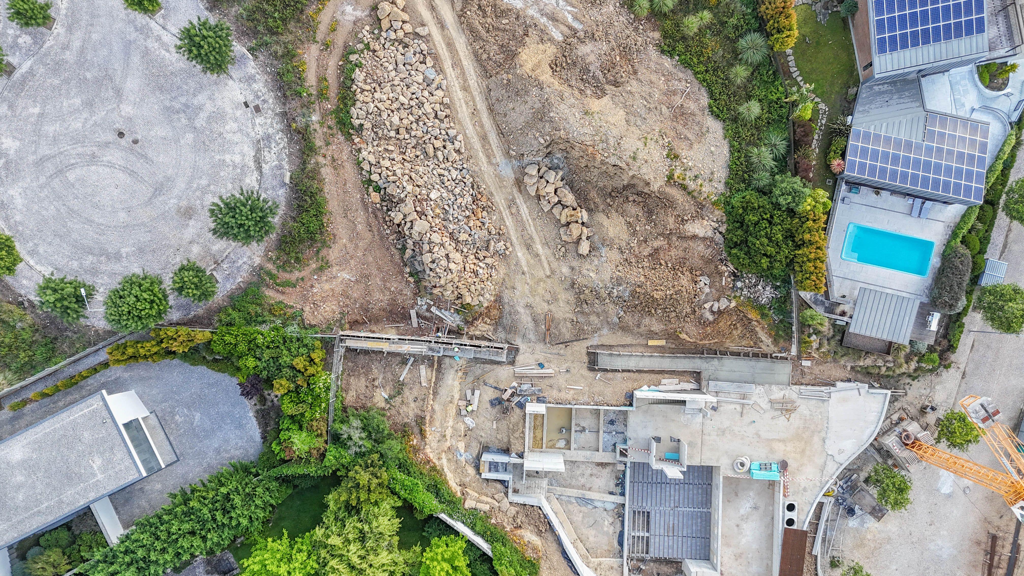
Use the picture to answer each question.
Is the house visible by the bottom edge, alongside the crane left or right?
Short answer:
right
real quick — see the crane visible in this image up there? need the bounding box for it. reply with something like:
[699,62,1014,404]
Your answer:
[904,394,1024,524]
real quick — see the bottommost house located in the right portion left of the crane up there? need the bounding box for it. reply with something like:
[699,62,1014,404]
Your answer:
[480,383,891,576]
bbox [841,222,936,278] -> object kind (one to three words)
swimming pool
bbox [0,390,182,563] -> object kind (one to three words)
house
